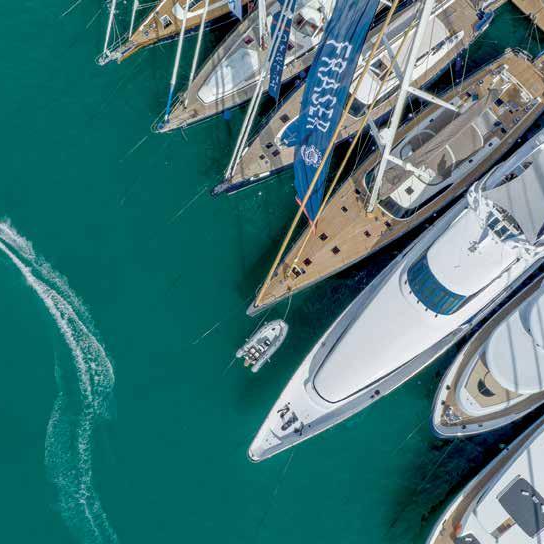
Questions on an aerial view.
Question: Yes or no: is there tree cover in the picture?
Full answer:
No, tree cover can't be seen anywhere here.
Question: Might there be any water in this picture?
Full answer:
Yes, there's water in this view.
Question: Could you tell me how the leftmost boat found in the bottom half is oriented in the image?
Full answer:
Seen from above, the leftmost boat found in the bottom half lies on a diagonal.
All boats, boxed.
[237,319,288,369]
[249,130,544,460]
[431,416,544,544]
[430,270,544,434]
[92,0,249,64]
[248,0,544,316]
[156,0,335,135]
